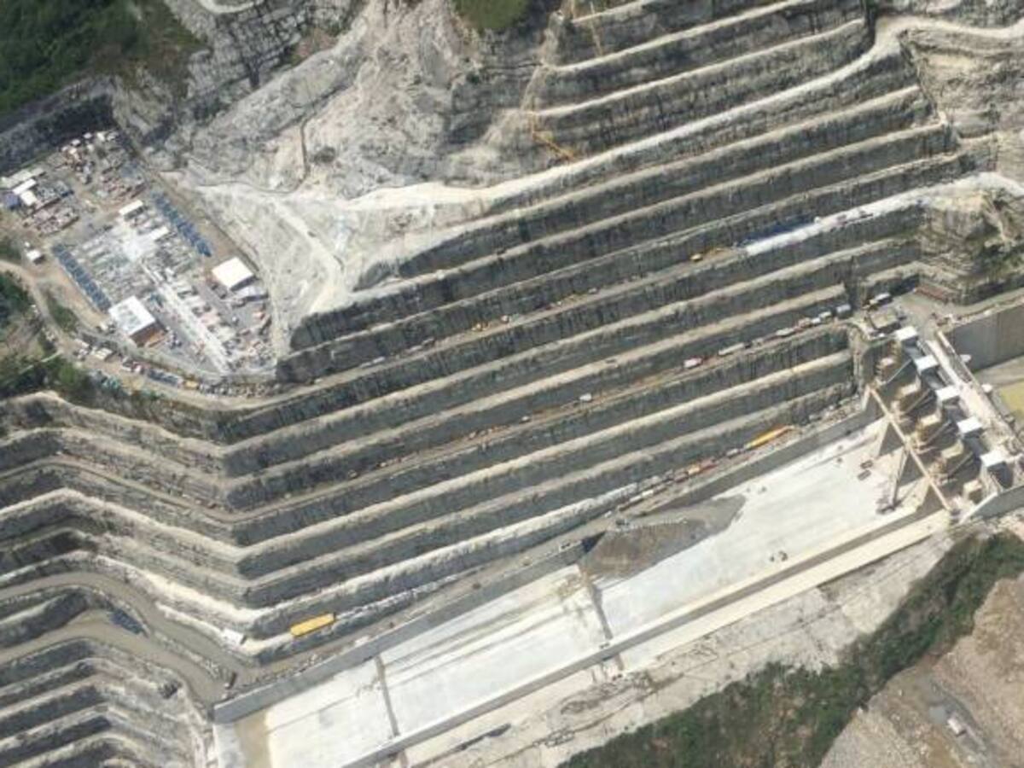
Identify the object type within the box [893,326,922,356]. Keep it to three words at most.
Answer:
building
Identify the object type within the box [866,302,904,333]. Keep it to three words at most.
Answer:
shed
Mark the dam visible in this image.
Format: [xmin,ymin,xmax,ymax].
[852,329,1024,539]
